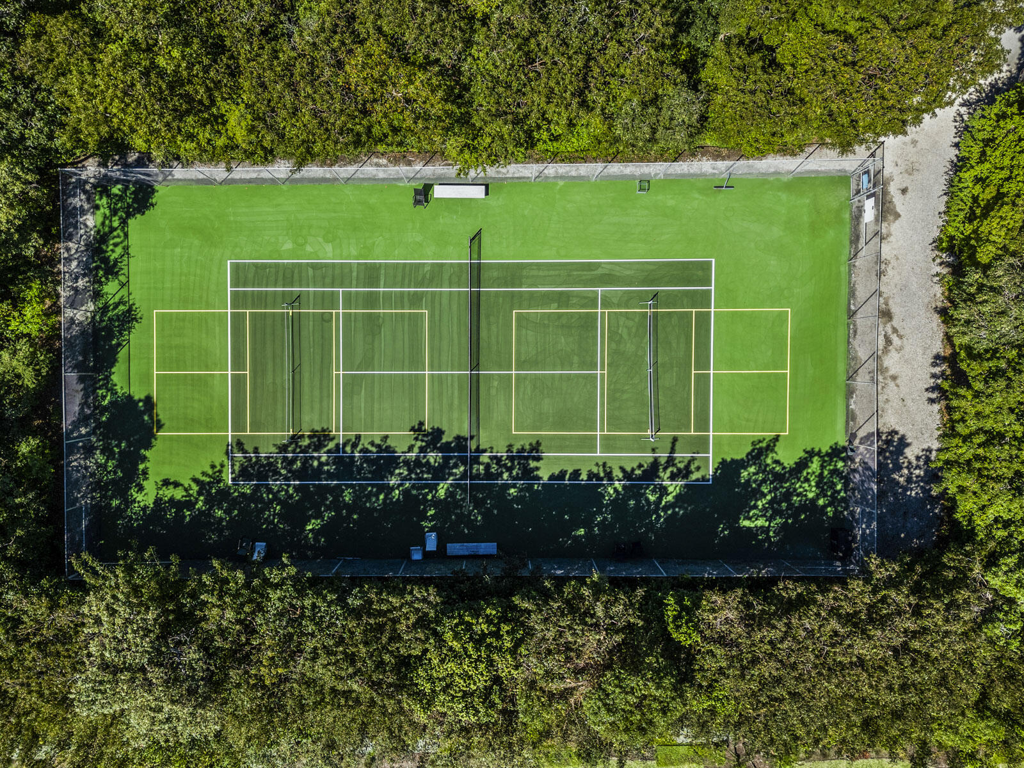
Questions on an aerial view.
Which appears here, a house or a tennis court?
tennis court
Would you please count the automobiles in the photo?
zero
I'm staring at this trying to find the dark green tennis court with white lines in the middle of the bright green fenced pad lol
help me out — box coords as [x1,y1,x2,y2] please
[93,170,851,561]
